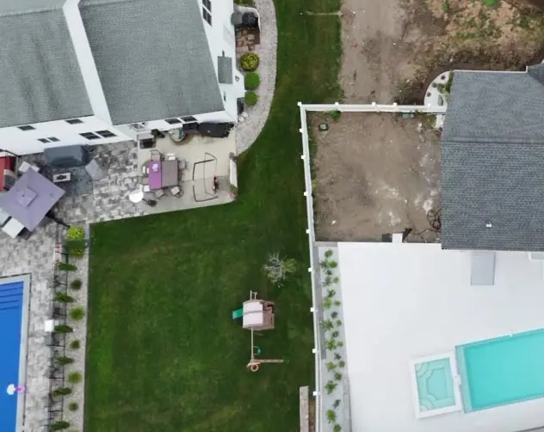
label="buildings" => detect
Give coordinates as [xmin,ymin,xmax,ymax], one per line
[0,0,244,156]
[440,61,544,256]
